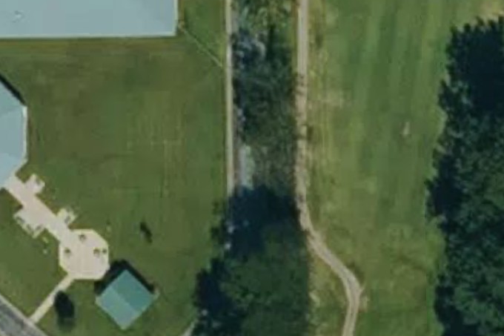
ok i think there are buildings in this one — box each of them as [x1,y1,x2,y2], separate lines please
[0,79,27,189]
[0,0,176,36]
[96,269,156,329]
